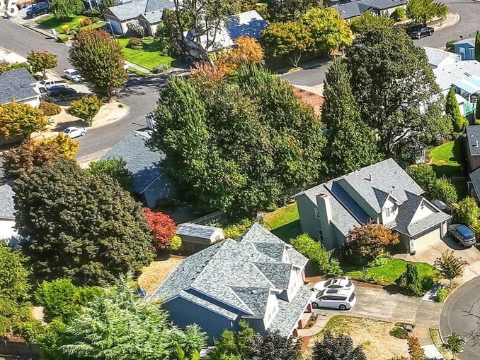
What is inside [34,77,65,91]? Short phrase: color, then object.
white vehicle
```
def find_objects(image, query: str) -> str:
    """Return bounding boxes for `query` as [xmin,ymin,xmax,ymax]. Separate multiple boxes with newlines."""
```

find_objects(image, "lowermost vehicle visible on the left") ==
[59,124,88,136]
